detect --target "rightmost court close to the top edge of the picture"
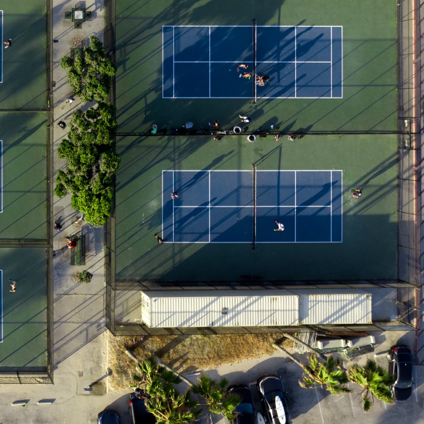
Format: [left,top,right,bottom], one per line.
[108,0,396,133]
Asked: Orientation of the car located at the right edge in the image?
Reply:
up and down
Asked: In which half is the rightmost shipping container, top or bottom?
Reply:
bottom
